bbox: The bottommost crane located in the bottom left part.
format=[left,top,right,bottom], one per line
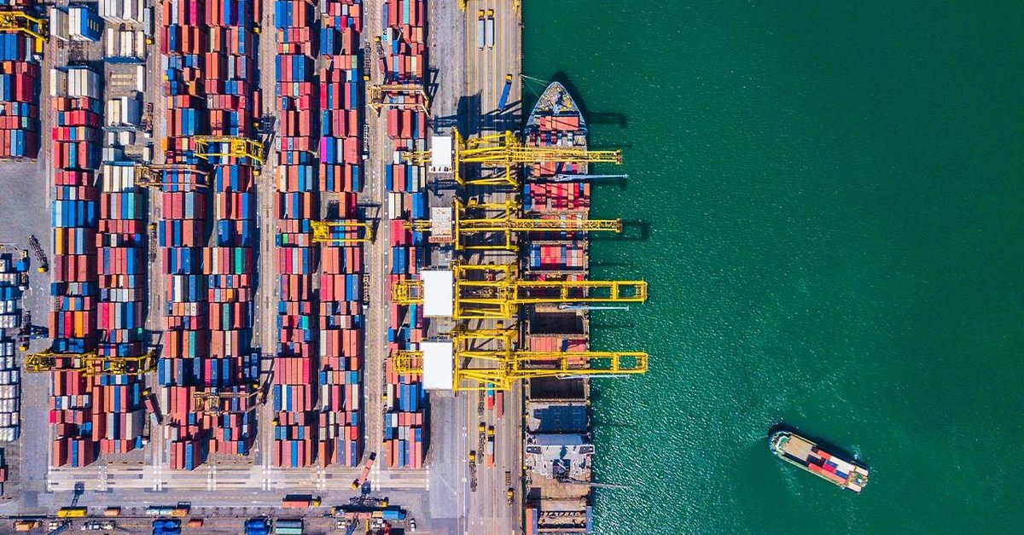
[194,382,264,415]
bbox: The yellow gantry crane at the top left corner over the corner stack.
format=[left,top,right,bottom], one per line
[0,10,55,50]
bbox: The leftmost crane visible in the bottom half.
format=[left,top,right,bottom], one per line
[27,348,98,374]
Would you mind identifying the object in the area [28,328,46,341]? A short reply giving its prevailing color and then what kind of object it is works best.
blue vehicle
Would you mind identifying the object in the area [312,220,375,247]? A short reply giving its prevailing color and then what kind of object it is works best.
yellow container crane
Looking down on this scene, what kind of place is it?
port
